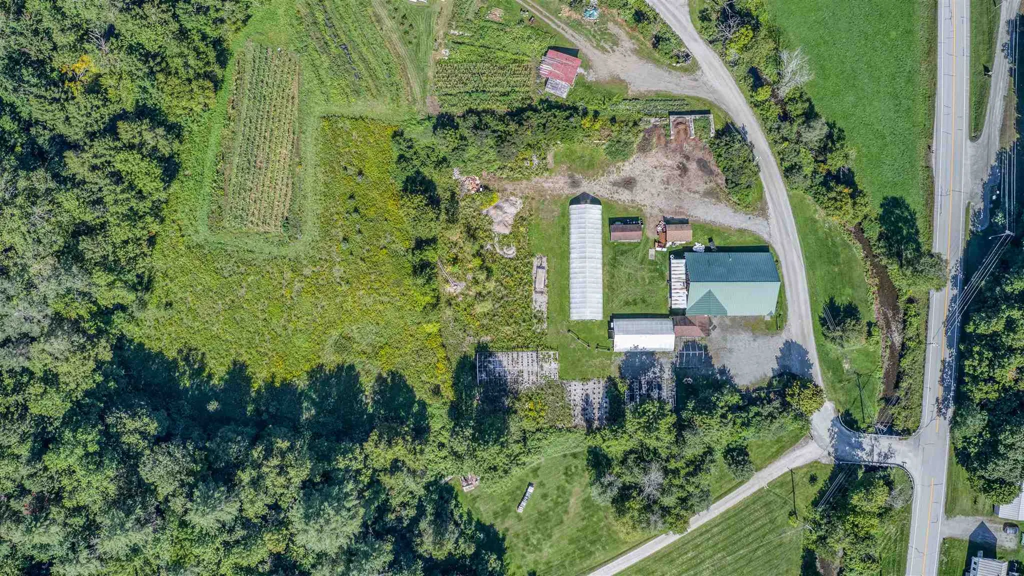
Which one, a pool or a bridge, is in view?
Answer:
bridge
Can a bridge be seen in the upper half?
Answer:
No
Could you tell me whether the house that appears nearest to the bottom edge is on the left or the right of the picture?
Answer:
right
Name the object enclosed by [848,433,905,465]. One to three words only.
bridge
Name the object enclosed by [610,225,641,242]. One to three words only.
shed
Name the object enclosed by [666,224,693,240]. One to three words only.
shed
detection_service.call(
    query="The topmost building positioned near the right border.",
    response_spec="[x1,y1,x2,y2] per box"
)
[993,491,1024,522]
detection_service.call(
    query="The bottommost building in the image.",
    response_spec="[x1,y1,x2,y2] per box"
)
[964,547,1012,576]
